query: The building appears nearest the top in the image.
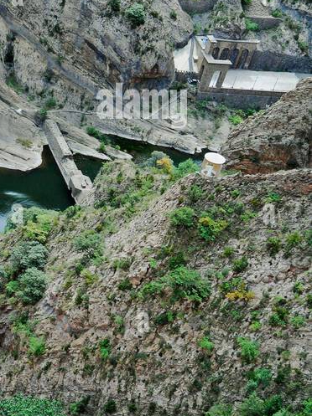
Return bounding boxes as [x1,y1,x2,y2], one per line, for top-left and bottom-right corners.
[191,35,309,105]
